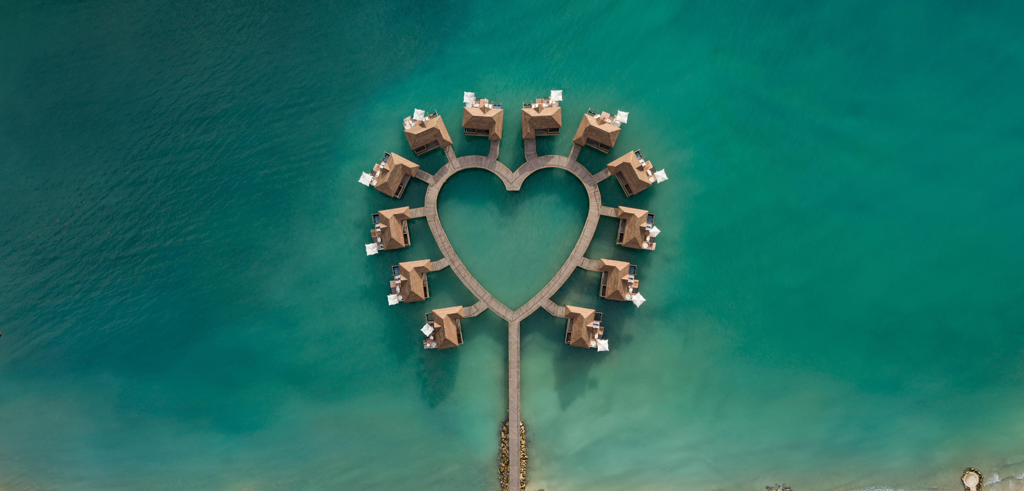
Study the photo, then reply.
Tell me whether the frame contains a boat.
No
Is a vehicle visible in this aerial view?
No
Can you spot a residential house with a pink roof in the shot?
No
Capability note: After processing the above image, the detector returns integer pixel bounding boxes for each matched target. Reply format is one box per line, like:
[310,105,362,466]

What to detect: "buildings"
[370,206,411,252]
[369,151,420,199]
[462,97,503,141]
[390,259,432,303]
[616,205,656,252]
[563,304,604,349]
[401,109,453,156]
[572,107,623,154]
[598,258,639,302]
[424,305,465,350]
[521,96,562,140]
[605,149,657,197]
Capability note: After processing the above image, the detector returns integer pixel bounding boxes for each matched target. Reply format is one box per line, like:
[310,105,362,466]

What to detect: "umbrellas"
[463,92,474,103]
[387,295,398,306]
[654,169,668,183]
[413,109,425,121]
[421,324,433,337]
[597,340,609,352]
[631,293,646,308]
[616,110,628,123]
[366,243,378,256]
[359,172,373,186]
[551,90,562,101]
